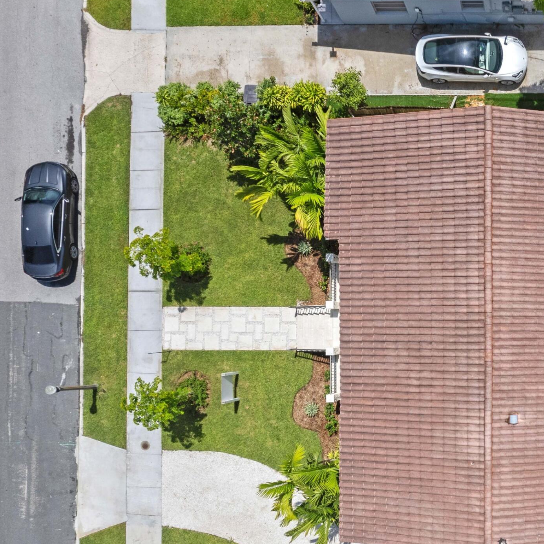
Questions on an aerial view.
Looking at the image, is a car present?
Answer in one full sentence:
Yes, the frame does contain a car.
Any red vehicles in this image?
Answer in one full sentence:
No, there is no red vehicle in the image.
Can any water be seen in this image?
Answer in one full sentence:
No, water can't be seen anywhere here.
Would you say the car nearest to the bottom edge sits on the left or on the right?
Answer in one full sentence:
You can find the car nearest to the bottom edge on the left side of the picture.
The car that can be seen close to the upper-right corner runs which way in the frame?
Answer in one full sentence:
In this picture, the car that can be seen close to the upper-right corner lies from left to right.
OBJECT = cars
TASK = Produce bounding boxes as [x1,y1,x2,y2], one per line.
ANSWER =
[17,160,81,281]
[411,28,531,84]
